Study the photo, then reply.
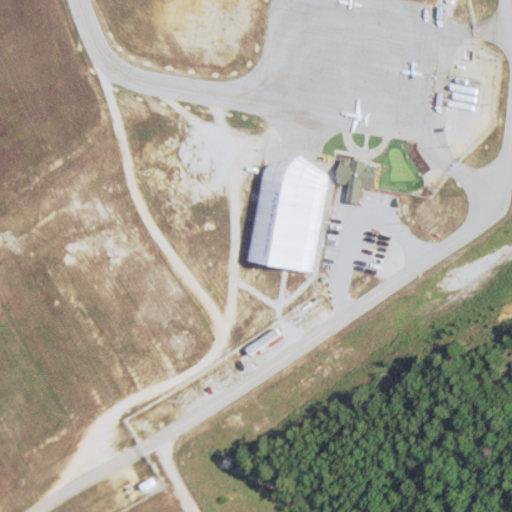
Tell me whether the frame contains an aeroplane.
Yes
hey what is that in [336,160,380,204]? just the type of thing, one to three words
building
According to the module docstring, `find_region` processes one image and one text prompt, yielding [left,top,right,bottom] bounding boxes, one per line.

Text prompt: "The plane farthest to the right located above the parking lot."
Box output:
[402,62,422,78]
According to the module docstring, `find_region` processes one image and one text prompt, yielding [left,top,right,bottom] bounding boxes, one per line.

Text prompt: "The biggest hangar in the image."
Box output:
[248,156,329,273]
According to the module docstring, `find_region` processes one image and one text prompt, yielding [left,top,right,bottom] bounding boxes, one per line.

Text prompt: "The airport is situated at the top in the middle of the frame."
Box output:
[70,0,509,275]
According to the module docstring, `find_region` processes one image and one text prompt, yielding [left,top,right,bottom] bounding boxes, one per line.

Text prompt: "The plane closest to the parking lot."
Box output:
[341,99,372,133]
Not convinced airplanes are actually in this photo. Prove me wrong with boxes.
[402,62,422,78]
[338,0,361,9]
[341,99,372,133]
